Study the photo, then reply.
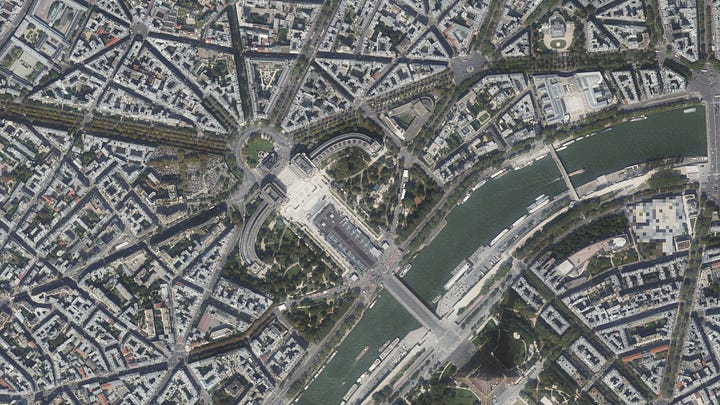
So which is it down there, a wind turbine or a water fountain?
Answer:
water fountain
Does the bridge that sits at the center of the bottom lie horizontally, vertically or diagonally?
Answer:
diagonally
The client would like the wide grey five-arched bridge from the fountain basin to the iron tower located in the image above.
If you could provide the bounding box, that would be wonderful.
[380,270,445,334]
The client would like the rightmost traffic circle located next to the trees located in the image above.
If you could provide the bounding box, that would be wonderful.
[236,129,280,172]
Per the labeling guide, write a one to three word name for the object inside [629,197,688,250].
building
